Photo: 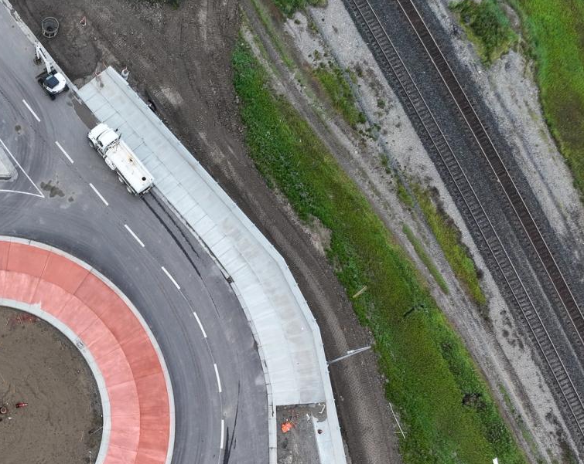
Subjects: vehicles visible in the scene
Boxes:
[36,40,70,102]
[87,126,153,200]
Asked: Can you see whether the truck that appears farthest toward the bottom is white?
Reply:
Yes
